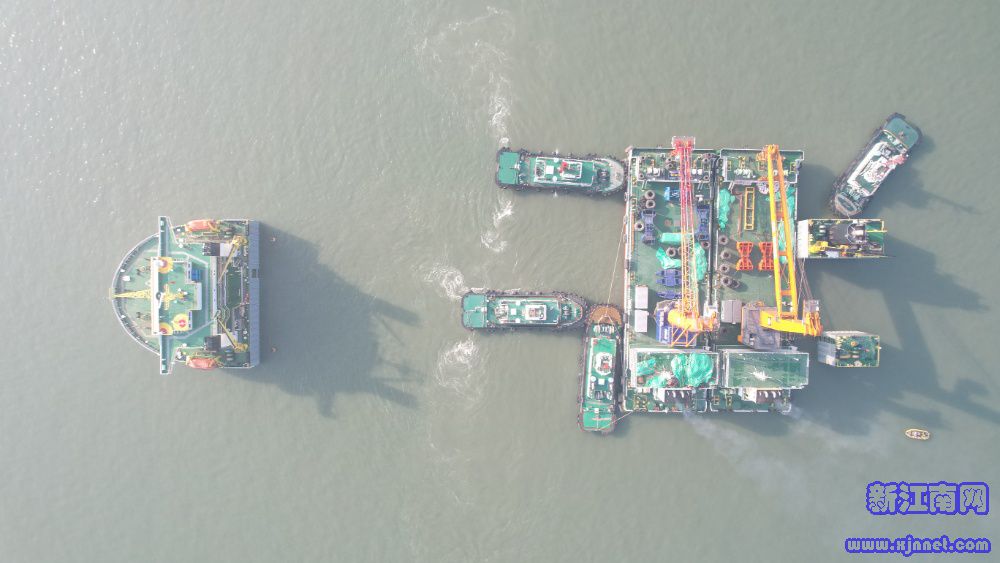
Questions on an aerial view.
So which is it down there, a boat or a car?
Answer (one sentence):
Visible in the photo is a boat.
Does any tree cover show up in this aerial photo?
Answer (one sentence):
No, tree cover can't be seen anywhere here.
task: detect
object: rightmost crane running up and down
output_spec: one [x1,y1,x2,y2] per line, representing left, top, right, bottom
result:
[735,144,824,350]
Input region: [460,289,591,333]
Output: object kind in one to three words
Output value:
boat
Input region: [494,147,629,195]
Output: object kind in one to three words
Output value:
boat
